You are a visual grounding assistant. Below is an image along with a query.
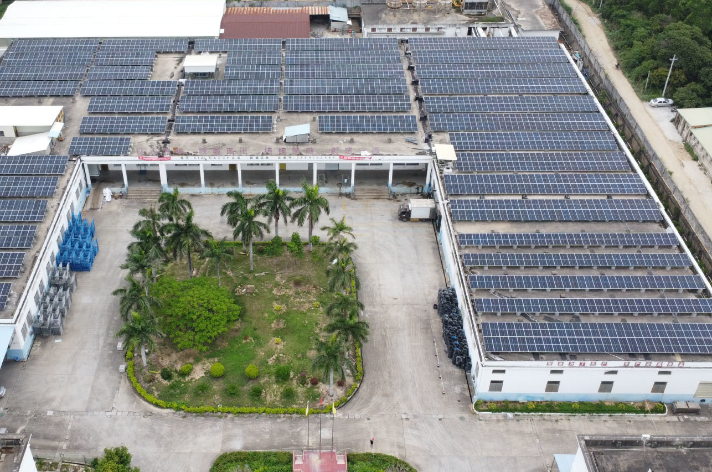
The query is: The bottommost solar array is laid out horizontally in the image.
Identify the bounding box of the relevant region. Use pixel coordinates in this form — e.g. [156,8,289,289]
[482,323,712,355]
